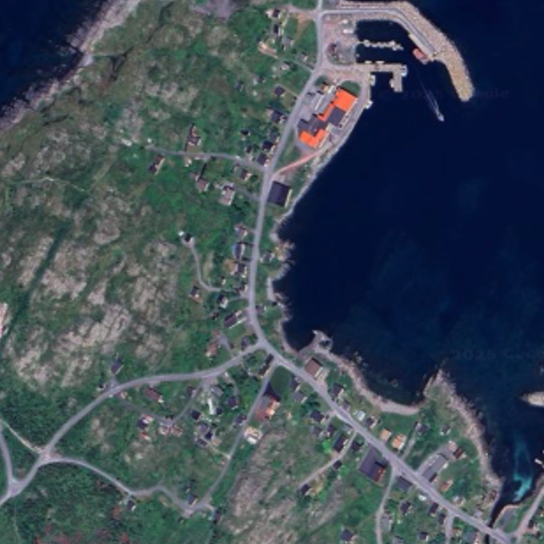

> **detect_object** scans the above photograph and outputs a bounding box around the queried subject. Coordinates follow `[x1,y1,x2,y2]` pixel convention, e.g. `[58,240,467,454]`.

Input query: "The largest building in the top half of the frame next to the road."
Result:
[297,84,362,147]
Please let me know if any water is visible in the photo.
Yes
